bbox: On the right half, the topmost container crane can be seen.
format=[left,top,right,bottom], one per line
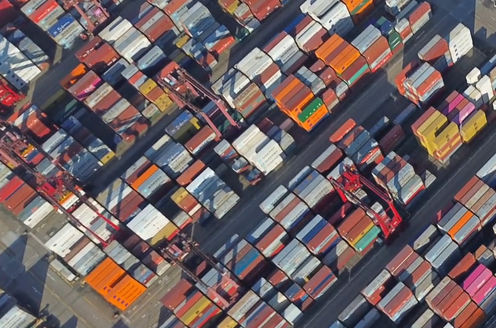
[332,160,412,247]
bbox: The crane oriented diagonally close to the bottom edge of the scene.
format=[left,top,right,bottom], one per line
[157,229,252,314]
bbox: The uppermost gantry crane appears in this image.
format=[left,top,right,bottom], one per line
[67,0,142,70]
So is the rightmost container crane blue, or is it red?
red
